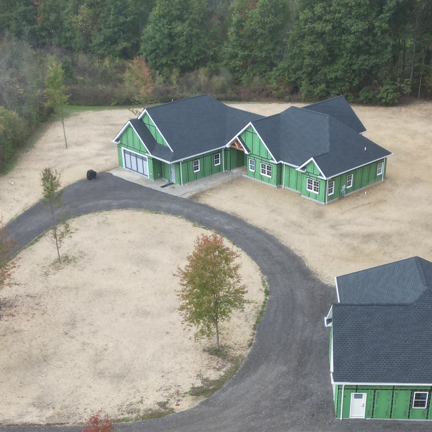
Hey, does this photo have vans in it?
No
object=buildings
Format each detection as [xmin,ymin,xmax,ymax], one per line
[327,256,432,421]
[112,94,394,203]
